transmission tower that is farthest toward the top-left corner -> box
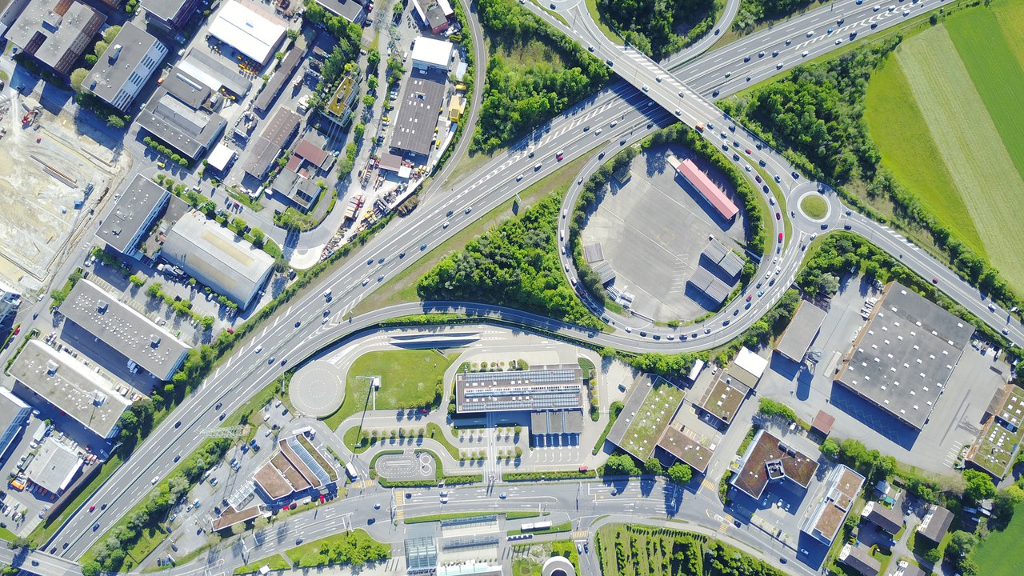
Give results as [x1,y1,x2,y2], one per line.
[375,35,410,56]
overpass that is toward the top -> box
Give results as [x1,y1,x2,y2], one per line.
[524,0,802,198]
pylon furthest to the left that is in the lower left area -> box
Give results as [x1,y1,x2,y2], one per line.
[212,421,255,453]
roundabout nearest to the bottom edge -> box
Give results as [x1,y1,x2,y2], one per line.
[787,179,841,234]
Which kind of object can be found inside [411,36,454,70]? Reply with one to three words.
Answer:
building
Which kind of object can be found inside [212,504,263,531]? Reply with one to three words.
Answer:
building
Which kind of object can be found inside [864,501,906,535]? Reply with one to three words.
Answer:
house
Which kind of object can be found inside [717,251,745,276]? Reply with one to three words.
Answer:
shed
